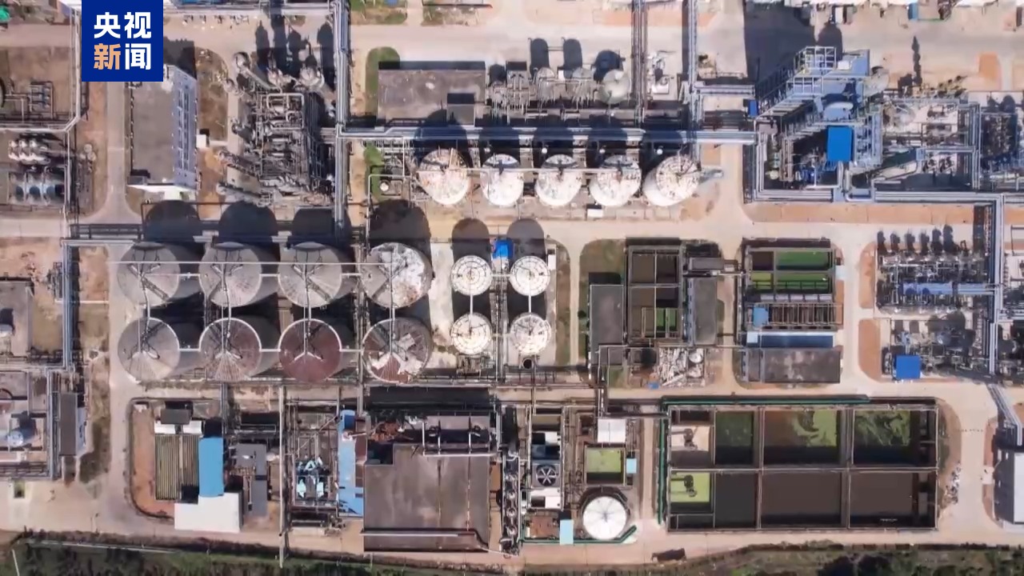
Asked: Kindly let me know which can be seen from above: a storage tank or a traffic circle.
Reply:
storage tank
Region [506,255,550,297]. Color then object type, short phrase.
white storage tank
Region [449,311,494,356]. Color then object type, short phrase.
white storage tank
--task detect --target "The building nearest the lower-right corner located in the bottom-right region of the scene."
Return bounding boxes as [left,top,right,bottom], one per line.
[991,442,1024,524]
